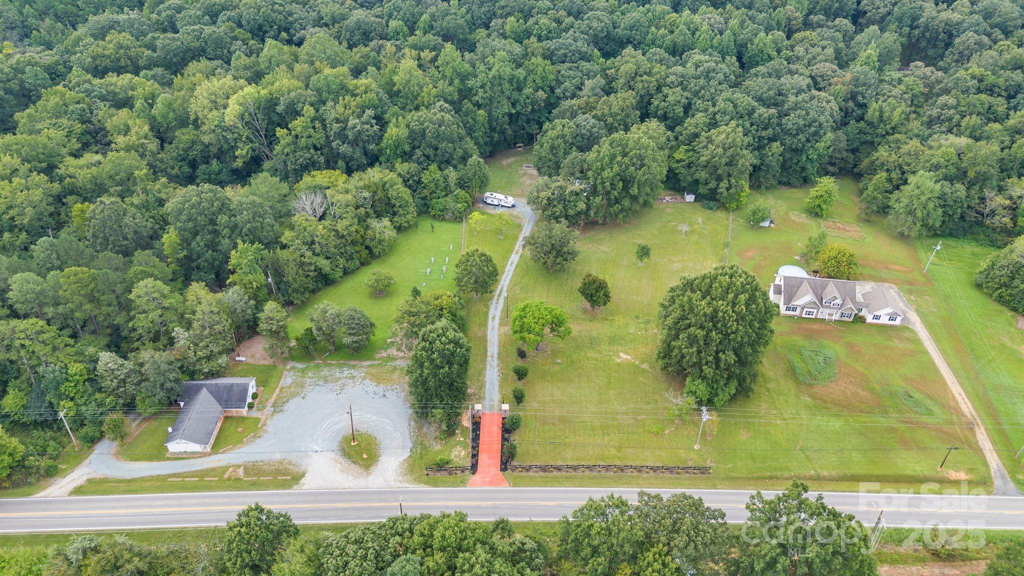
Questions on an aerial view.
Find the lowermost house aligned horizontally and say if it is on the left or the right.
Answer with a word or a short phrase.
right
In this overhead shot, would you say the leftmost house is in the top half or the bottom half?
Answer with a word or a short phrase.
bottom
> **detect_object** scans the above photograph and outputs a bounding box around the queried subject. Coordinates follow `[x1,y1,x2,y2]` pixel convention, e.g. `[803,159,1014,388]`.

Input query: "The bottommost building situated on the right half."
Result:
[764,275,906,326]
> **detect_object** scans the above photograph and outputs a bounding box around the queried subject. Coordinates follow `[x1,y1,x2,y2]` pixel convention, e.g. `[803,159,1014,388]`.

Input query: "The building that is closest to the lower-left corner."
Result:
[161,376,260,451]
